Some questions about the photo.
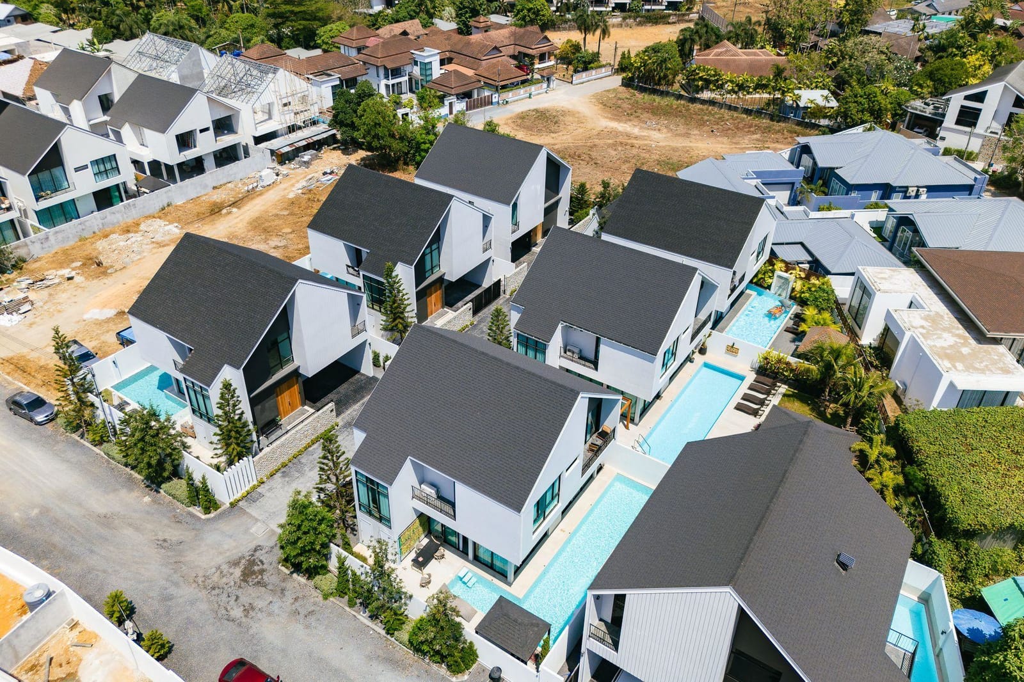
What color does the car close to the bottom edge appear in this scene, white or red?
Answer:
red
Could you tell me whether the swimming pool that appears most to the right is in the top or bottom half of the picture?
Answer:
bottom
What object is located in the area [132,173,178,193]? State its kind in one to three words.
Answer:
gazebo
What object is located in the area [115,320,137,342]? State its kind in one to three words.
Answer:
truck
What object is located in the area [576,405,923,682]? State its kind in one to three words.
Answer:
house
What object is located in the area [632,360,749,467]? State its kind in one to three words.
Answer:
swimming pool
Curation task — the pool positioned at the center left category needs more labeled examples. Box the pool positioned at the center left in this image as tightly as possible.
[108,365,194,429]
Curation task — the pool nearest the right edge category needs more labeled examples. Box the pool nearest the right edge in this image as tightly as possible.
[890,593,943,682]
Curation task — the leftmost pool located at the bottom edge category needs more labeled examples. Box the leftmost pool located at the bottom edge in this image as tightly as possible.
[441,472,653,659]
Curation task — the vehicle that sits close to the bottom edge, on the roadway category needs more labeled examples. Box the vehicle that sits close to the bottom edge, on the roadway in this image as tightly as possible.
[215,656,278,682]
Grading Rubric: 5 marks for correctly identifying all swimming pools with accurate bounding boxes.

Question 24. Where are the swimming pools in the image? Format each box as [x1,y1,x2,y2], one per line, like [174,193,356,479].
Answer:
[441,472,653,659]
[723,292,797,347]
[108,365,194,429]
[632,360,749,467]
[890,593,943,682]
